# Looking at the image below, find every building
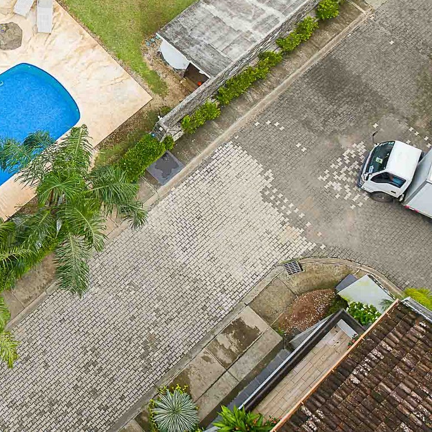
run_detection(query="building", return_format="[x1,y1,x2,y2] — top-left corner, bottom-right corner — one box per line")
[157,0,302,101]
[210,290,432,432]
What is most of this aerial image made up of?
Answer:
paved ground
